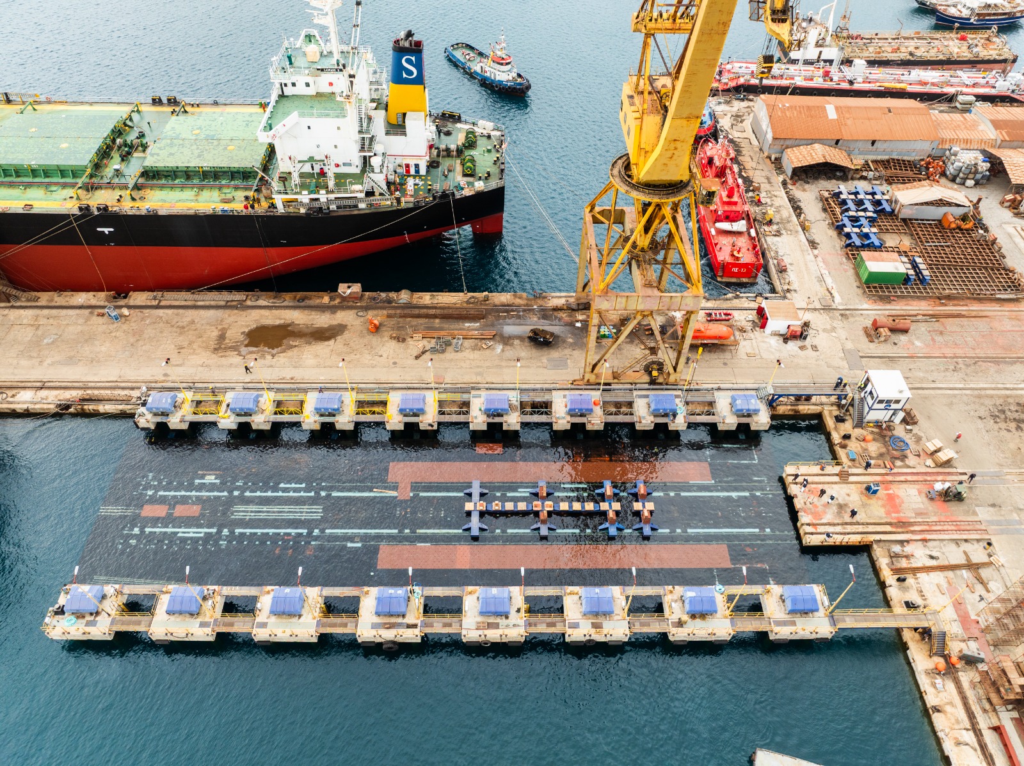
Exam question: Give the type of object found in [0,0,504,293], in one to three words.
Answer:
ship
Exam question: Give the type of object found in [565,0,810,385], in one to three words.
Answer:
crane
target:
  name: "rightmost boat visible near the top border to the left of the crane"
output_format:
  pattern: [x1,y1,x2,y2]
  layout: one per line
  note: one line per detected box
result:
[441,17,530,99]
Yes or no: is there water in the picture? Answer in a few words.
Yes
